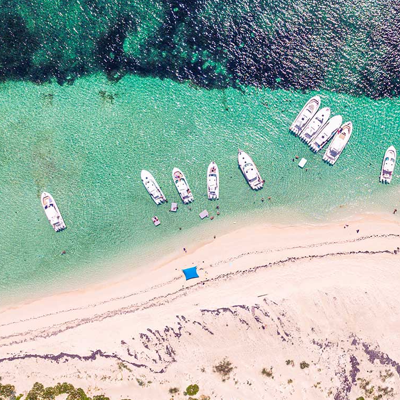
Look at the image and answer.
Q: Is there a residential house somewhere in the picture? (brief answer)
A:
No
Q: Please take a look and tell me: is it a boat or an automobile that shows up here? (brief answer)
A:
boat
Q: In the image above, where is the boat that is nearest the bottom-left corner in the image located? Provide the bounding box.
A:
[42,193,67,235]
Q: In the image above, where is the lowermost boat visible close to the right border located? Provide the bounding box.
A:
[380,146,396,184]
